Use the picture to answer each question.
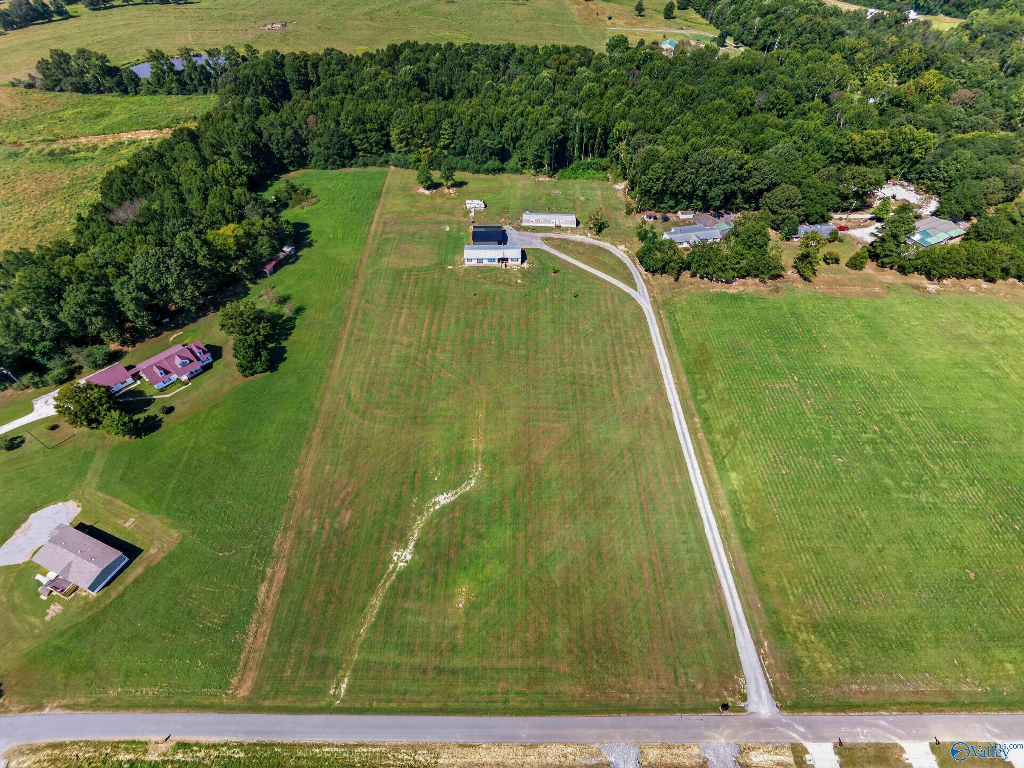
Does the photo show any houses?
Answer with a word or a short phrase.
Yes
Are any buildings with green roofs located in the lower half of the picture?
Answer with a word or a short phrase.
No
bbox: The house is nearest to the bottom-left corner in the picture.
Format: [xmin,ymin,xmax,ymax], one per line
[31,524,127,601]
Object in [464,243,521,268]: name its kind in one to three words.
house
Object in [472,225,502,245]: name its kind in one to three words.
building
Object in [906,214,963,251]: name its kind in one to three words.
house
